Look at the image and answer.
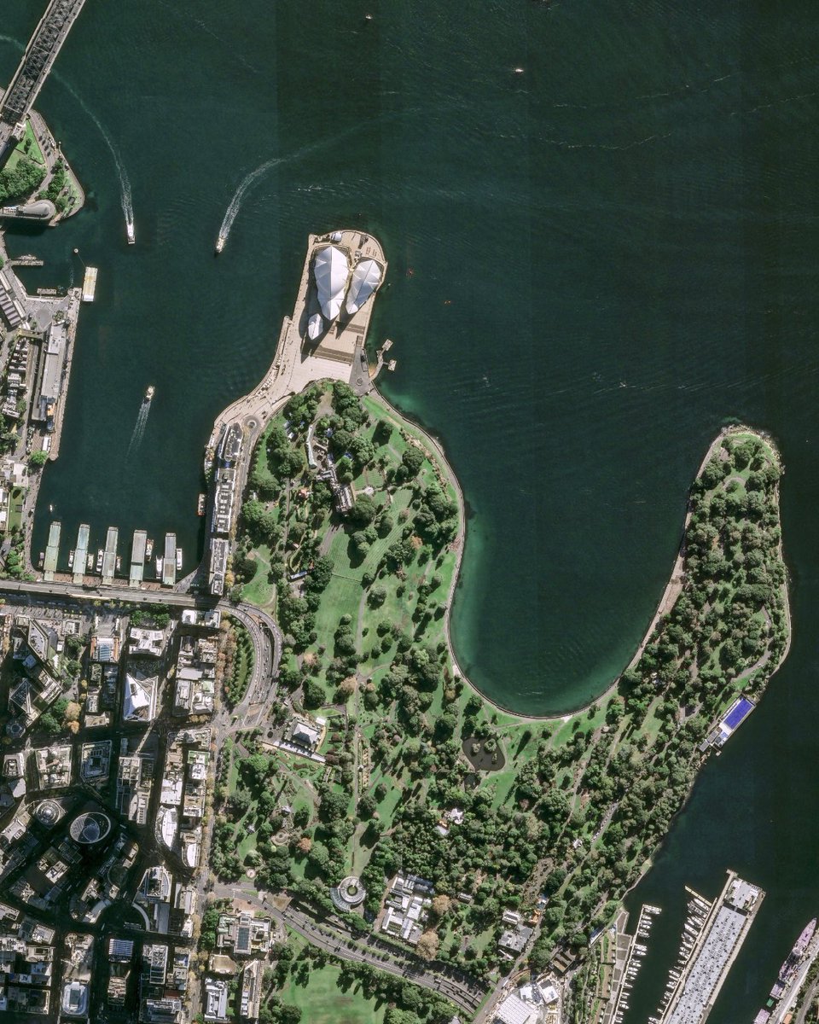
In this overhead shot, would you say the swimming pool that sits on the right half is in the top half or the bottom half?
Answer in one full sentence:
Seen from above, the swimming pool that sits on the right half lies in the bottom half of the view.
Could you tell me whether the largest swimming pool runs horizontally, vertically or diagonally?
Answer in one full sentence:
In this picture, the largest swimming pool is oriented diagonally.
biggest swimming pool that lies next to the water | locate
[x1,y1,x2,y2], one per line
[701,694,756,756]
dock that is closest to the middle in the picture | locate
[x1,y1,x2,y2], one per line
[371,339,396,381]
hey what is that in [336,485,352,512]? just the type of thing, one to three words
house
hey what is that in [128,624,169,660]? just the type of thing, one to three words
building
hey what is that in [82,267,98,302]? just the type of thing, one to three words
ship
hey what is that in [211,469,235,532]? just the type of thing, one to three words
building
